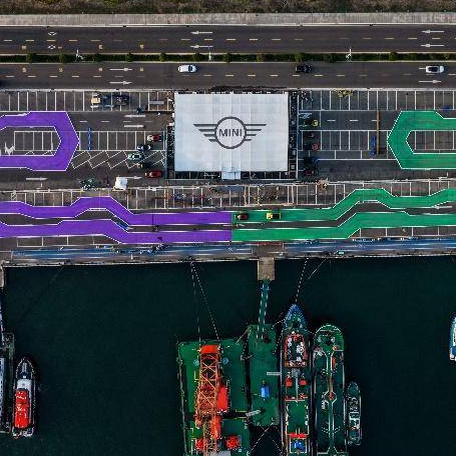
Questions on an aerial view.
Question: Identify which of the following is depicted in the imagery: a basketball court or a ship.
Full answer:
I can see a ship in this picture.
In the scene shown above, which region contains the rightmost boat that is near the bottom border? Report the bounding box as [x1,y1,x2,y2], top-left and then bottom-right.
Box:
[347,381,362,443]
